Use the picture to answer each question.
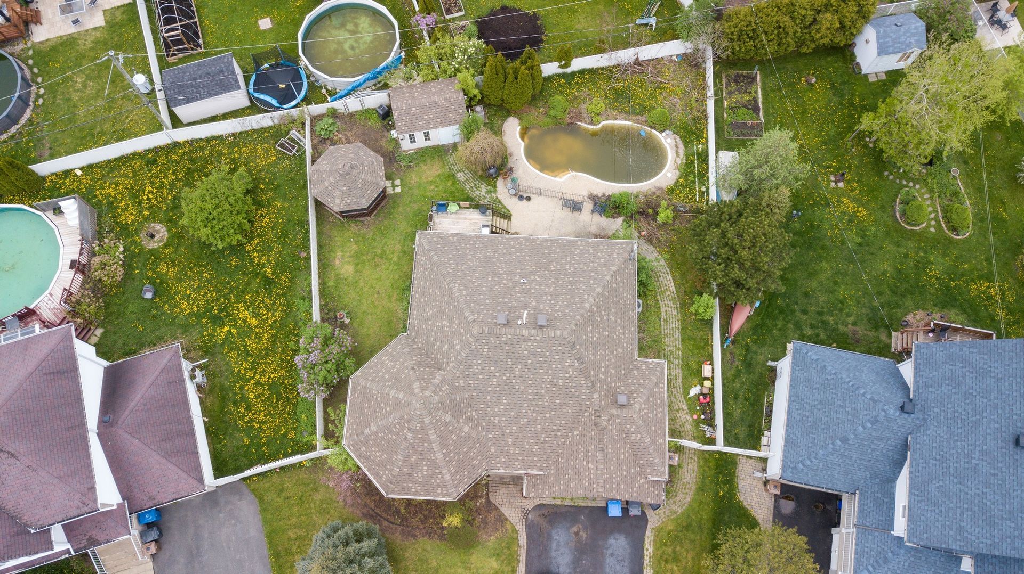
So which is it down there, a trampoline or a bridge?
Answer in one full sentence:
The image shows a trampoline.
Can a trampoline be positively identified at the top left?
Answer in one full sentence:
Yes, a trampoline is visible at the top left.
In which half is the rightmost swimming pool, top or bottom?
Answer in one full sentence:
The rightmost swimming pool sits in the top half of the picture.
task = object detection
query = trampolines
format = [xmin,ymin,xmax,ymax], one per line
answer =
[248,45,310,111]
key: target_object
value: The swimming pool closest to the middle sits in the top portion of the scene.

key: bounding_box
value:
[515,119,673,187]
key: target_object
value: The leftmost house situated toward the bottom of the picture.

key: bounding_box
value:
[0,320,215,574]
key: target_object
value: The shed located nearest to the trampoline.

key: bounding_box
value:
[159,52,249,123]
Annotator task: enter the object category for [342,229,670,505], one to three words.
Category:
house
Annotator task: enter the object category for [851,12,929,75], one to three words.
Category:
shed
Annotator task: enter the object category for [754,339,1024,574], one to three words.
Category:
house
